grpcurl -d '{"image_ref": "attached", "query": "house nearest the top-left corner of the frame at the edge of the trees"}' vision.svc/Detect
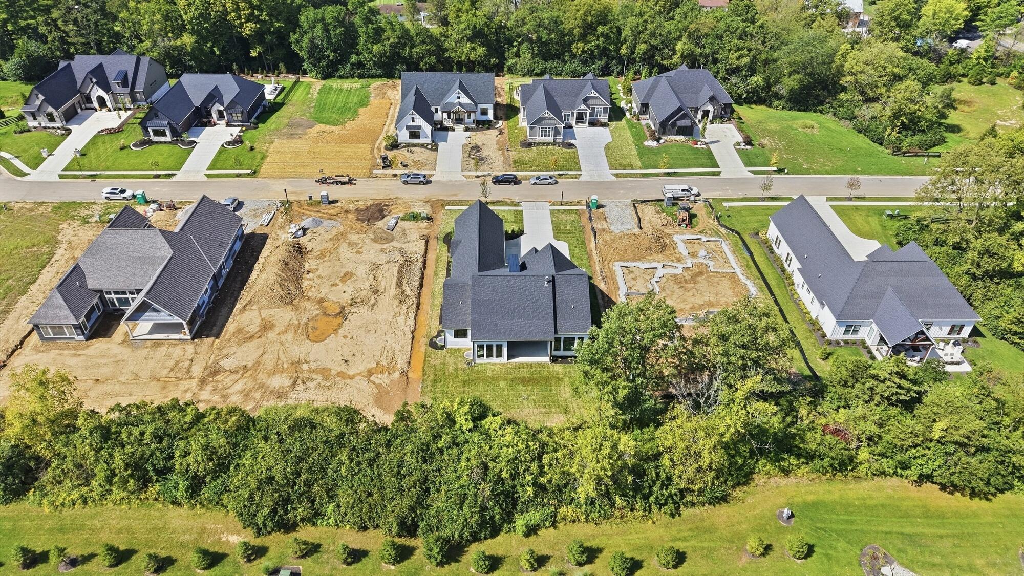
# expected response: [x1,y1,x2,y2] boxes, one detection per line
[15,42,171,127]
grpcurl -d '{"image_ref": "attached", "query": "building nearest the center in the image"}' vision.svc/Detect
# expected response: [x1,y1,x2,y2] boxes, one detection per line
[436,198,591,362]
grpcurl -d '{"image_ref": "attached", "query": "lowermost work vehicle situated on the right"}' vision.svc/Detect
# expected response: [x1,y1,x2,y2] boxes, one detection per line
[676,202,694,229]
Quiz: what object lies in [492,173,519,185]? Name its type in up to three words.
vehicle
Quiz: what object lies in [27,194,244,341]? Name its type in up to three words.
house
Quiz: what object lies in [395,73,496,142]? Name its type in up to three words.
house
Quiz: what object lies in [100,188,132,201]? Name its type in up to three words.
vehicle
